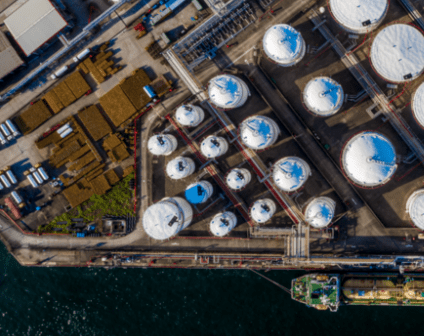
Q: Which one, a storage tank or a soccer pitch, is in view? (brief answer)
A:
storage tank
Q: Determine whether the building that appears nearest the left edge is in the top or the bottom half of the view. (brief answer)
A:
top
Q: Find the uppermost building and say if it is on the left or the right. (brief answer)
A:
left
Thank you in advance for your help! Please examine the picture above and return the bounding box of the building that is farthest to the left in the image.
[0,26,33,92]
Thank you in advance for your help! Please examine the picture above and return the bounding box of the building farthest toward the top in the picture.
[4,0,77,59]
